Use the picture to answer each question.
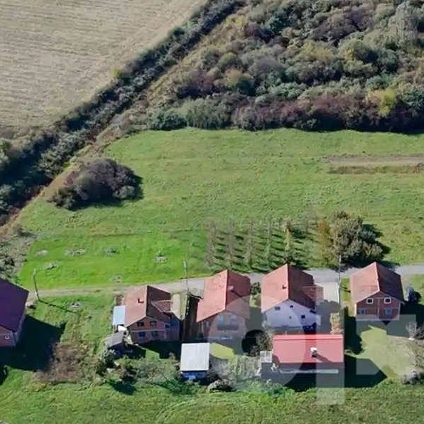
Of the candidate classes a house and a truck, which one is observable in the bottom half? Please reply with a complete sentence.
There is a house in the bottom half.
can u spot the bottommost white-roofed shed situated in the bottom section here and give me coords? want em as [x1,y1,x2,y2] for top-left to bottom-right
[179,345,211,377]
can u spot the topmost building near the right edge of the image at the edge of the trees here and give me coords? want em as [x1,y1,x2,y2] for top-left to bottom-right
[352,262,404,322]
